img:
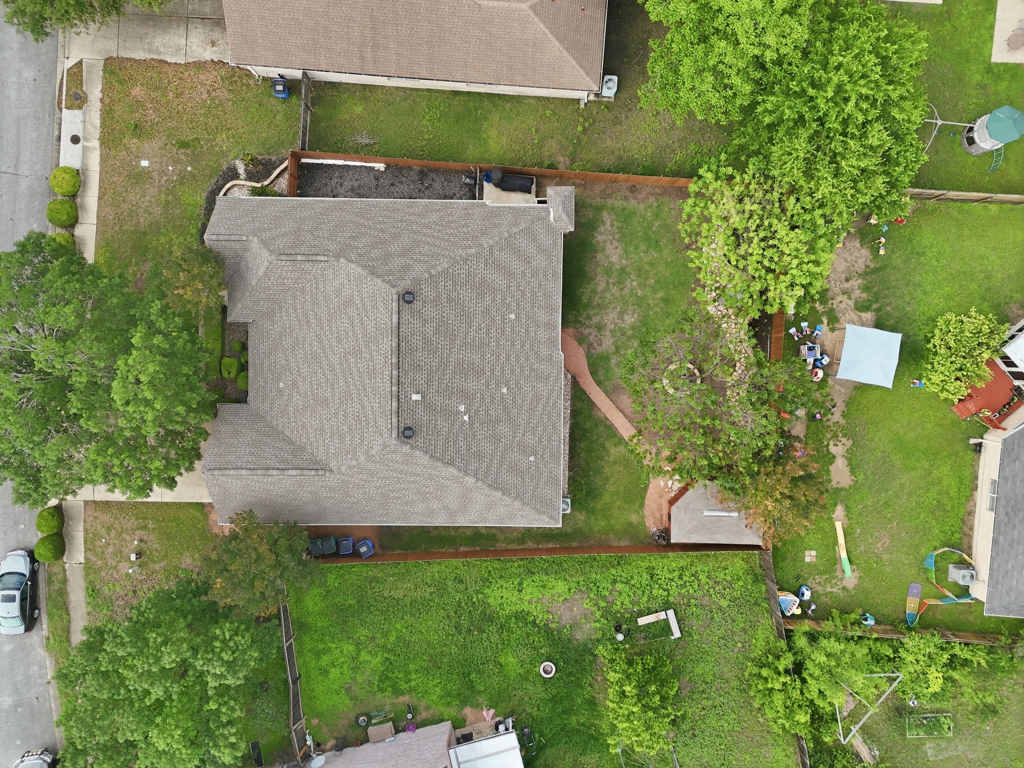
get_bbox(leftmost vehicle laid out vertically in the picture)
[0,548,41,635]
